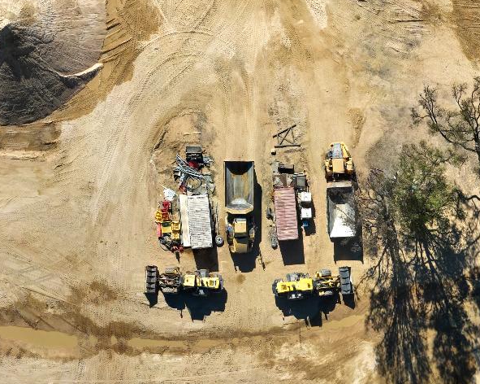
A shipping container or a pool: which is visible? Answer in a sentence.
The one in the frame is a shipping container.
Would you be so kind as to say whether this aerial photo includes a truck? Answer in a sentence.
Yes, the image includes a truck.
